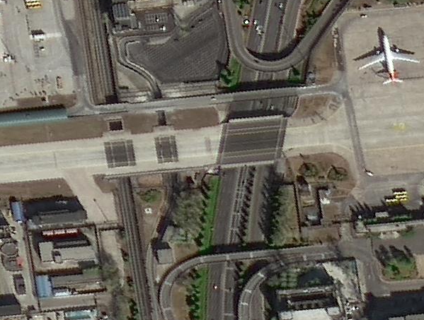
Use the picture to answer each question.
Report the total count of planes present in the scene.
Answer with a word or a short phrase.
1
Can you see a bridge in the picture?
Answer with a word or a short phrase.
Yes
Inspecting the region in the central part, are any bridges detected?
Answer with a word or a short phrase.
Yes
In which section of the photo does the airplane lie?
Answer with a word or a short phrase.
top right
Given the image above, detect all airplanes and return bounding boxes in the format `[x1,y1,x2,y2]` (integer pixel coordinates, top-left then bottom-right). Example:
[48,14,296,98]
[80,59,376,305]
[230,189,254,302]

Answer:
[364,35,418,85]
